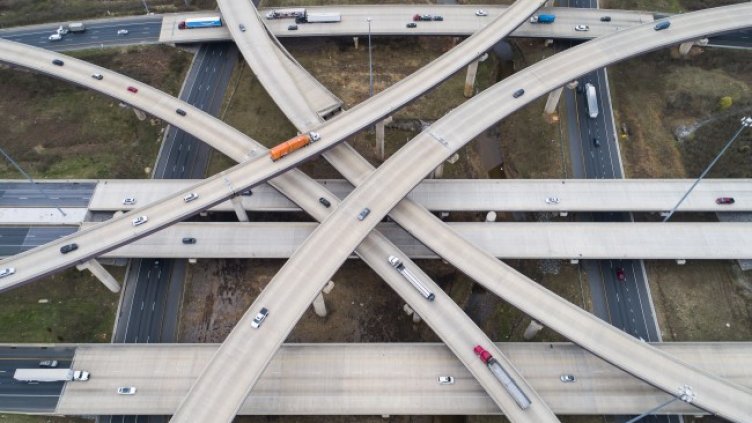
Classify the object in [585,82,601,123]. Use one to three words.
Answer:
vehicle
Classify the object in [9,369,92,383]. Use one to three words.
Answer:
vehicle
